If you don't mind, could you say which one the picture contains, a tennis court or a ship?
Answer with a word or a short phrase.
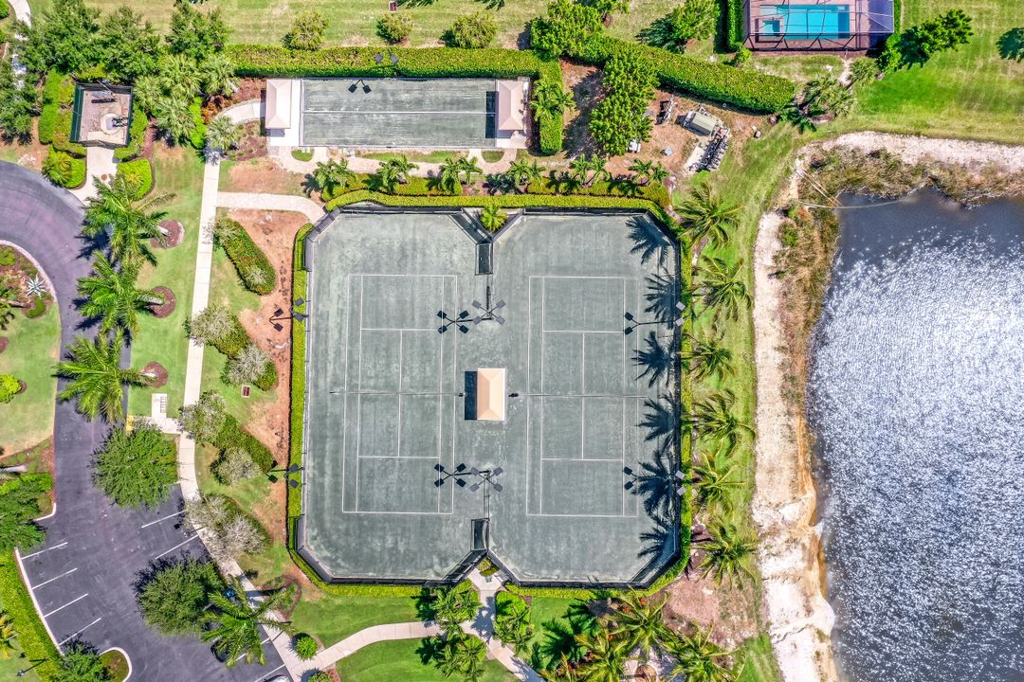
tennis court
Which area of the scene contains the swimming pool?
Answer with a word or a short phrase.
top right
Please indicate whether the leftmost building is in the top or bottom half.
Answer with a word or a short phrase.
top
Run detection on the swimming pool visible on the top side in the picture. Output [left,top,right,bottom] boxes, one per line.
[743,0,878,47]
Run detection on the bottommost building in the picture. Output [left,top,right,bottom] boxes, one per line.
[476,368,506,421]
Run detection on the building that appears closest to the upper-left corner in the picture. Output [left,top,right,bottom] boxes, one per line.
[264,78,297,134]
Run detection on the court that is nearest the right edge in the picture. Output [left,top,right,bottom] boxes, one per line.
[488,211,680,584]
